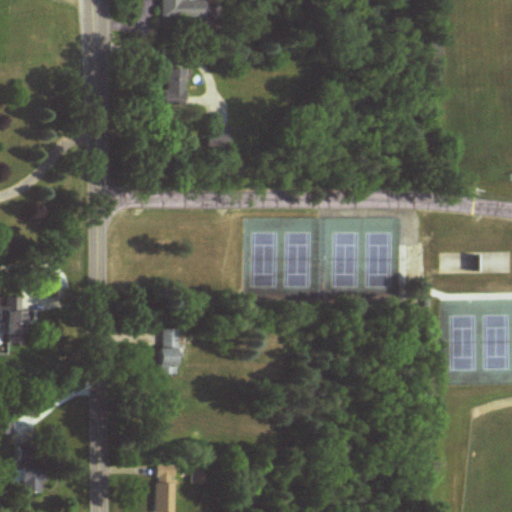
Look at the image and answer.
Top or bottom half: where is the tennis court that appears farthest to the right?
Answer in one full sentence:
The tennis court that appears farthest to the right is in the bottom half of the image.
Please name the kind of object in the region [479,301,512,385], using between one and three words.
tennis court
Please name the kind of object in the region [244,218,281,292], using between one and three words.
tennis court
